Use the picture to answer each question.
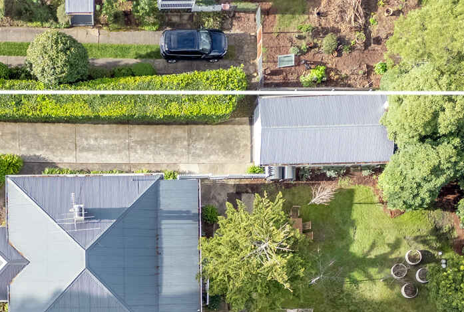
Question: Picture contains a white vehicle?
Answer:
No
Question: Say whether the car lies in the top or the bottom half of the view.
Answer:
top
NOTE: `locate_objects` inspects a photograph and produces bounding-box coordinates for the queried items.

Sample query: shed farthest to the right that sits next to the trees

[253,95,397,167]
